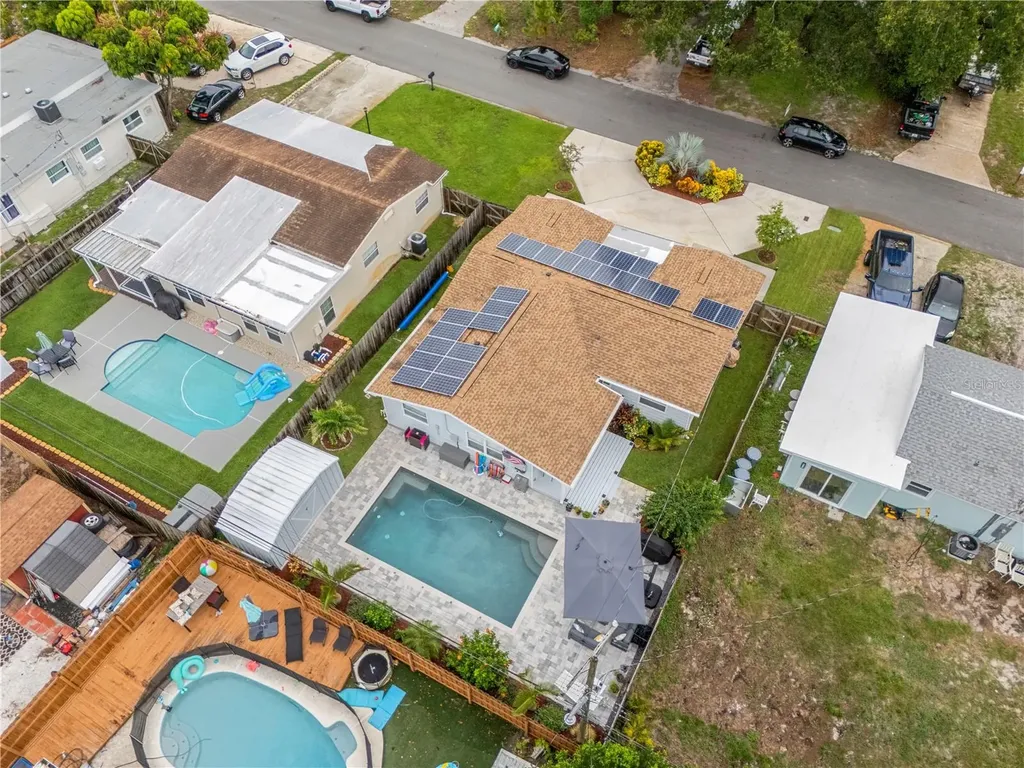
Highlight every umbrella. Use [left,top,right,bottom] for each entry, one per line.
[26,318,50,351]
[565,518,664,626]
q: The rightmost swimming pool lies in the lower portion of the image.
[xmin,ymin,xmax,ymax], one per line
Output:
[335,459,565,638]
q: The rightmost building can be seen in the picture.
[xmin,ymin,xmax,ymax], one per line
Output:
[776,289,1024,555]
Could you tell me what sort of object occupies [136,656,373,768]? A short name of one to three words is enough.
swimming pool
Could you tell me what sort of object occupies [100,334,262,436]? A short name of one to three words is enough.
swimming pool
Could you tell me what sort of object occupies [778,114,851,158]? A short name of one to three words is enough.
car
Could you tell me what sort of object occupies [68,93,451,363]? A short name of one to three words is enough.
house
